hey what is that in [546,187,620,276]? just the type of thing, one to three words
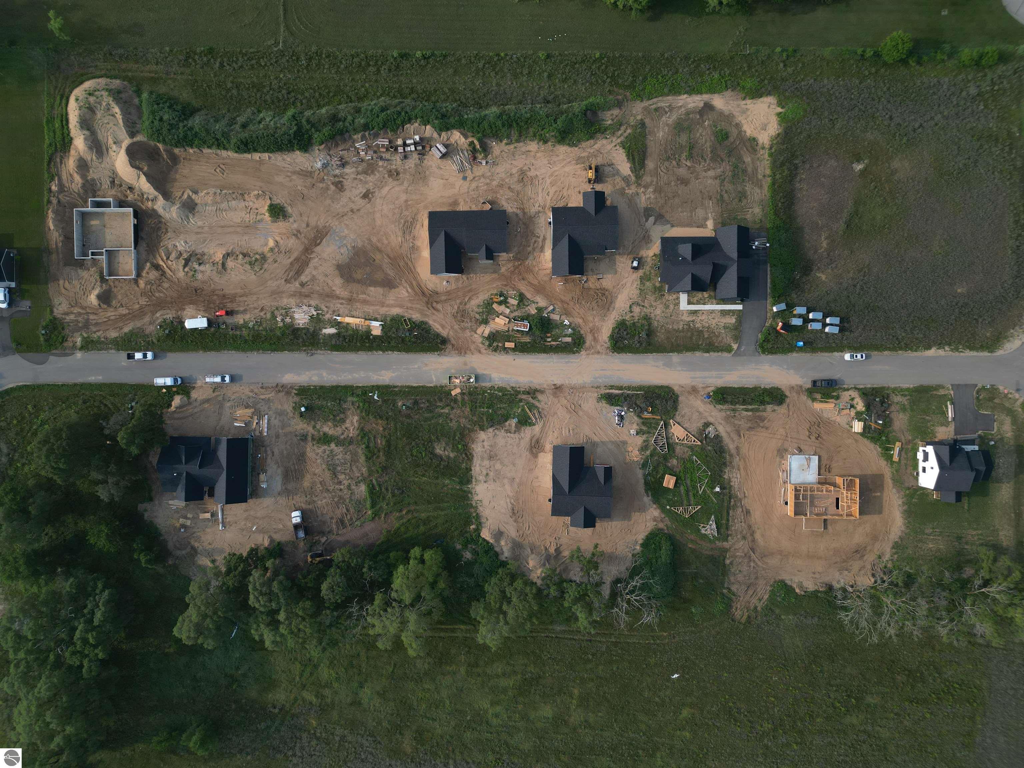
house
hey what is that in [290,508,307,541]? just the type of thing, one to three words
vehicle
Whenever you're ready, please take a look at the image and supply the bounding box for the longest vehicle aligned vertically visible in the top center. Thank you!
[586,162,598,187]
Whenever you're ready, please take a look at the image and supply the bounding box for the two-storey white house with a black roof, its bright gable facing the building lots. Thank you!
[913,442,987,500]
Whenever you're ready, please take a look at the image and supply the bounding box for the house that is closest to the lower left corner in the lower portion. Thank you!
[155,437,252,507]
